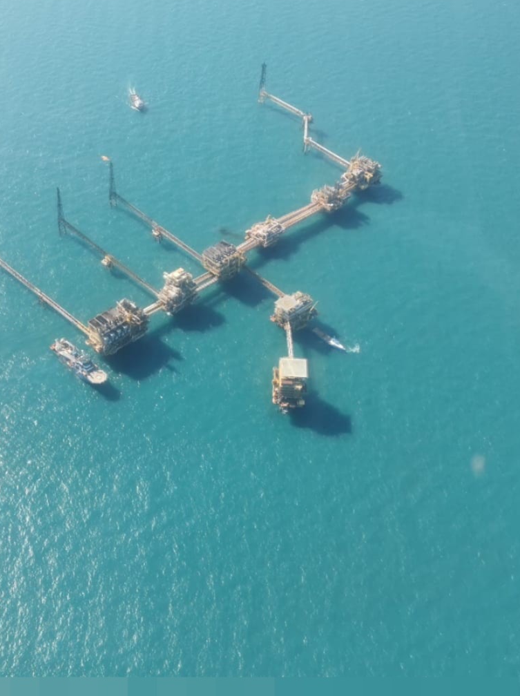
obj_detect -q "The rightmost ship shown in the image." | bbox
[309,324,350,353]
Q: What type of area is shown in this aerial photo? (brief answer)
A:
port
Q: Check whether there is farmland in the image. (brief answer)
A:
No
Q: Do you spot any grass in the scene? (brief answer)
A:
No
